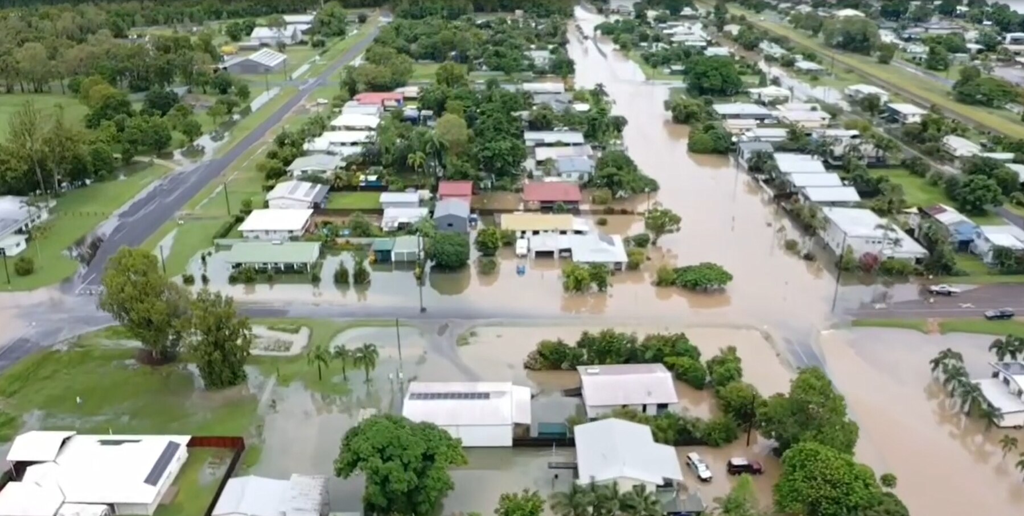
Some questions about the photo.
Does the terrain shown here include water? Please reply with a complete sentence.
Yes, there is water in the image.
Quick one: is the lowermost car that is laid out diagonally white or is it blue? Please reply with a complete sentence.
The color of the lowermost car that is laid out diagonally is white.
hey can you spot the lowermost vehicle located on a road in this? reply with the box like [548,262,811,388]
[983,306,1017,319]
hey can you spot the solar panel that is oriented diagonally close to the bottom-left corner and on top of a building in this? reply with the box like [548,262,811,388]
[150,444,185,484]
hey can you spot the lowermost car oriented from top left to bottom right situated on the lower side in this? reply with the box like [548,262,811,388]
[683,450,717,480]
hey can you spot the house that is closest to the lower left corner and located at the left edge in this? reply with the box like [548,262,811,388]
[0,427,198,516]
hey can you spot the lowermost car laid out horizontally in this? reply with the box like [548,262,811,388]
[726,457,767,475]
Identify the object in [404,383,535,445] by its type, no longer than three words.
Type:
shed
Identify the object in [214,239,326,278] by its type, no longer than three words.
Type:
house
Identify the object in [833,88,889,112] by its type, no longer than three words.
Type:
house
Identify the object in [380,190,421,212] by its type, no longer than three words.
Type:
shed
